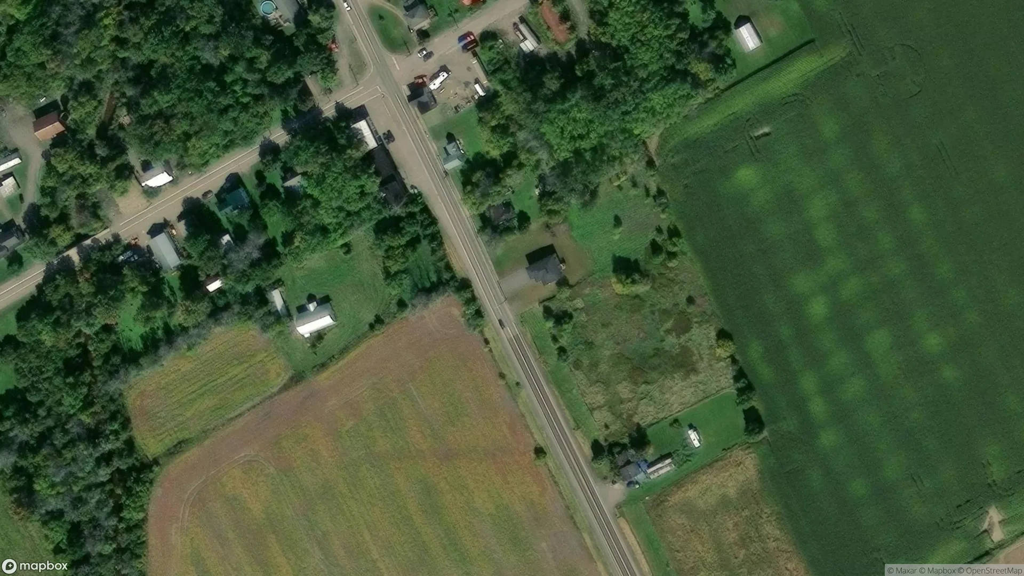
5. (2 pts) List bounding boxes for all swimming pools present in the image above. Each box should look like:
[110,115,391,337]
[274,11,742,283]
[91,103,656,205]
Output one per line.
[261,1,276,16]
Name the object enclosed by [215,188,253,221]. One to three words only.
house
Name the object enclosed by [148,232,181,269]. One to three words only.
shed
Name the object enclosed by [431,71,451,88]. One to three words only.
camper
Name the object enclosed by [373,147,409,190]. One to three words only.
building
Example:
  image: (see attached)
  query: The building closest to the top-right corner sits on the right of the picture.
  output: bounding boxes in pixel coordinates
[736,23,761,52]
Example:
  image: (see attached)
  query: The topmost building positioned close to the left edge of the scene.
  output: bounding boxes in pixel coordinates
[33,111,67,141]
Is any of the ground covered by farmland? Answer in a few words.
Yes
